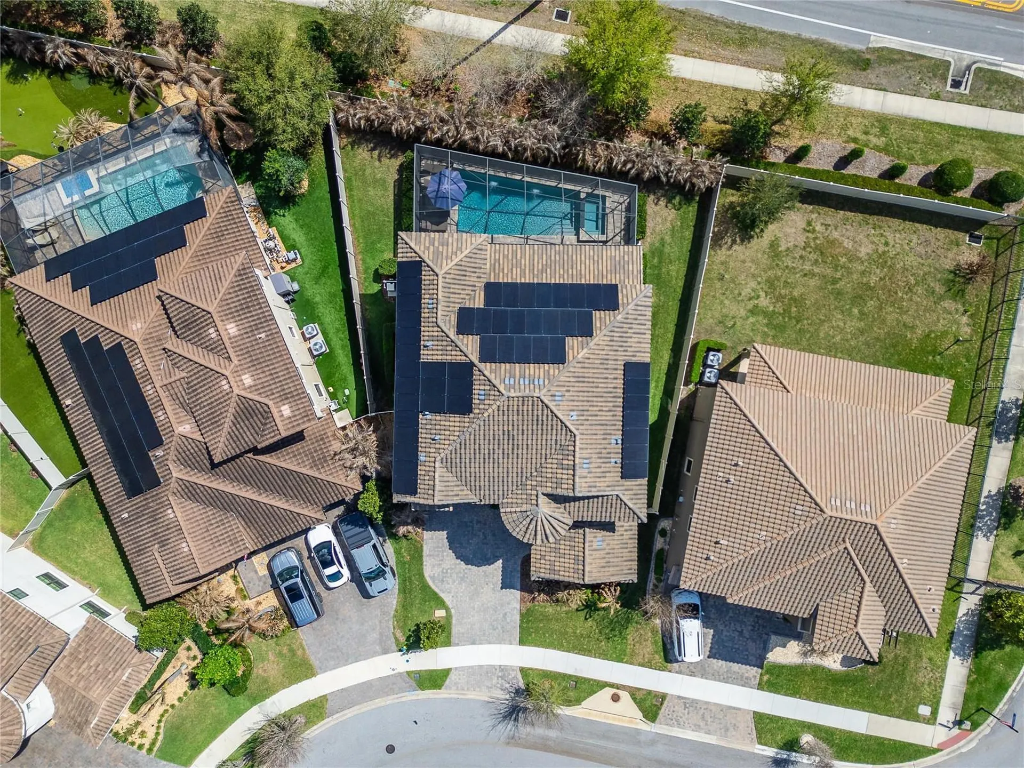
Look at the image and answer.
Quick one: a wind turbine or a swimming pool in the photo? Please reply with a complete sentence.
Looking from above, you can make out a swimming pool.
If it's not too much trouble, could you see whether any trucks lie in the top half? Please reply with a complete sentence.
No, no truck appears in the top half.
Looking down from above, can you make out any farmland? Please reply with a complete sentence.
No, no farmland is visible.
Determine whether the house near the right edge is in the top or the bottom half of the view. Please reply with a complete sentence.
You can find the house near the right edge in the bottom half.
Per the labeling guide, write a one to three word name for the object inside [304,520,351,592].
car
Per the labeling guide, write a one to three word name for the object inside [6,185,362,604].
house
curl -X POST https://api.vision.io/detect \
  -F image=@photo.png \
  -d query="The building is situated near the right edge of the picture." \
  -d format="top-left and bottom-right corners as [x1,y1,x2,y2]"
[667,343,980,664]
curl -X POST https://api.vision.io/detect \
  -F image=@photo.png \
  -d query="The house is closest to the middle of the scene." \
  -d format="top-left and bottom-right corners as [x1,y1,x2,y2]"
[391,231,654,585]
